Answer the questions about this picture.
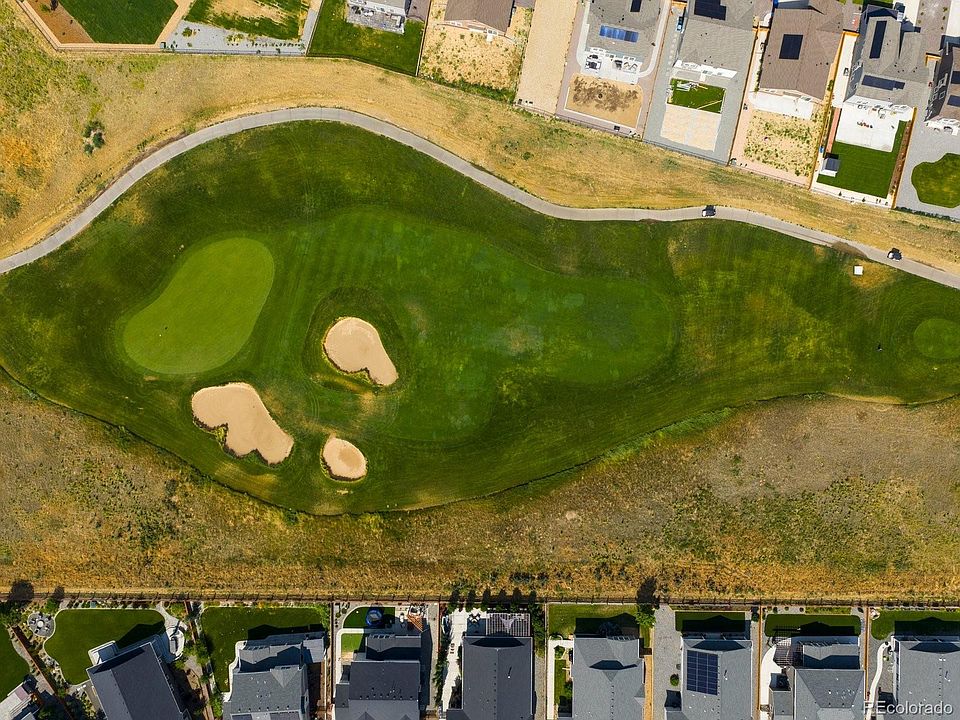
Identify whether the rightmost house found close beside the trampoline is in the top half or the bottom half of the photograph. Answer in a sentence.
The rightmost house found close beside the trampoline sits in the bottom half of the picture.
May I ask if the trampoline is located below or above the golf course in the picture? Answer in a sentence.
From this view, the trampoline can be seen below the golf course.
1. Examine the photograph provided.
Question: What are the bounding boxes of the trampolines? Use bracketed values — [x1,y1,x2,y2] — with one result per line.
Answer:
[364,608,383,630]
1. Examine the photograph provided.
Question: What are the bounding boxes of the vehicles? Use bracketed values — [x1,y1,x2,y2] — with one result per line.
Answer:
[700,210,717,218]
[884,252,903,262]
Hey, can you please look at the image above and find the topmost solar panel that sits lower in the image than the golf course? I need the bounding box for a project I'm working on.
[687,651,717,696]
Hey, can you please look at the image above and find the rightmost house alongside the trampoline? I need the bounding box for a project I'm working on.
[334,633,422,720]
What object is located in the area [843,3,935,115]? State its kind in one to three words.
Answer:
house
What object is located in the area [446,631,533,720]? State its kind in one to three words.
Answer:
house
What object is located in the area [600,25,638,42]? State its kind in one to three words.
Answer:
solar panel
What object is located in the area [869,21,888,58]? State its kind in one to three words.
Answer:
solar panel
